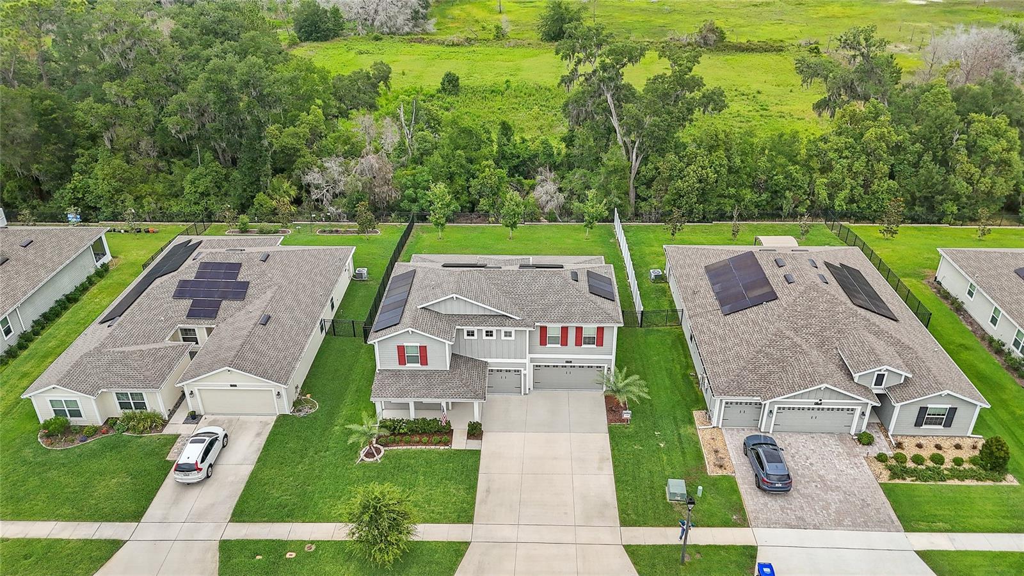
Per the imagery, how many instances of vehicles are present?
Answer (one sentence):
Looking from above, you can make out 2 vehicles.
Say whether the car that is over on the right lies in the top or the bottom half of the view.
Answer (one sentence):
The bottom half of the photo is where the car that is over on the right is.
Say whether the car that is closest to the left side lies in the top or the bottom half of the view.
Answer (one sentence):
It is in the bottom half that the car that is closest to the left side appears.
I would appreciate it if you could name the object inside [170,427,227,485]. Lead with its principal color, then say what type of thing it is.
white car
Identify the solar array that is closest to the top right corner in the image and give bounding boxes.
[704,250,777,313]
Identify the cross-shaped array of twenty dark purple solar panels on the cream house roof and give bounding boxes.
[172,262,248,317]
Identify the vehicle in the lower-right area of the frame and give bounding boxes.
[744,436,795,495]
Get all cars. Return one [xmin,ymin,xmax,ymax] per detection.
[744,436,795,495]
[170,427,227,485]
